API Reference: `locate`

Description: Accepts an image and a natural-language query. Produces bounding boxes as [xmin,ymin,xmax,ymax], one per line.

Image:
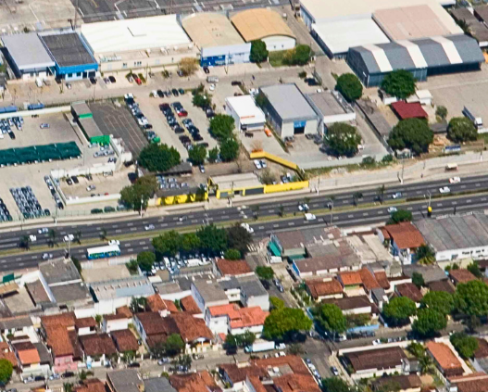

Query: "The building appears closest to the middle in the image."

[209,173,264,200]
